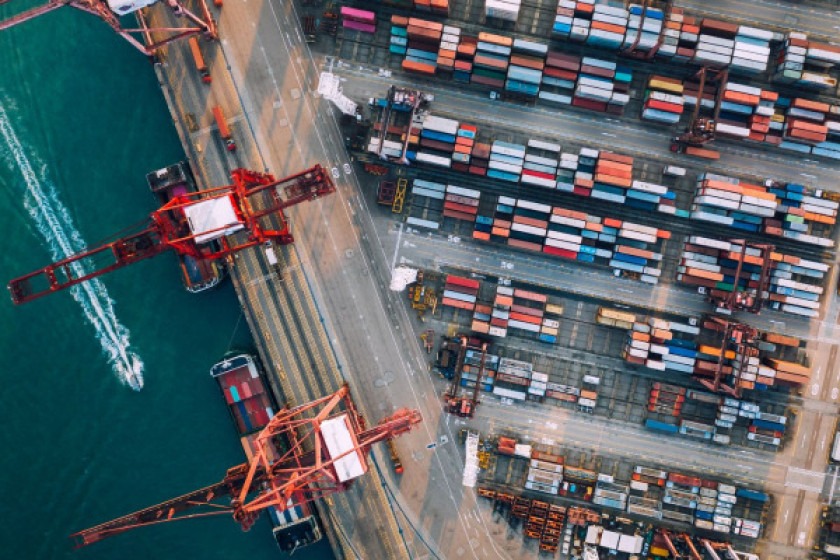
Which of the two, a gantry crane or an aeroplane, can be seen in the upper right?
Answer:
gantry crane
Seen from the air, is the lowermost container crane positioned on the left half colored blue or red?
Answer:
red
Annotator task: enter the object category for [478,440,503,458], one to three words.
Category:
work vehicle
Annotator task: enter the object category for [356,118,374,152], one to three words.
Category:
work vehicle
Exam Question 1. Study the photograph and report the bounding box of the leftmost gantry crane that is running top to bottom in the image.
[380,84,423,167]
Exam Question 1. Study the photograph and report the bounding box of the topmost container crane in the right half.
[608,0,660,63]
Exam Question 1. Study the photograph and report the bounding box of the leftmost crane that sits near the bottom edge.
[58,377,420,553]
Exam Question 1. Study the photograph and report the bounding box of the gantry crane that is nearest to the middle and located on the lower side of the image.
[443,332,486,411]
